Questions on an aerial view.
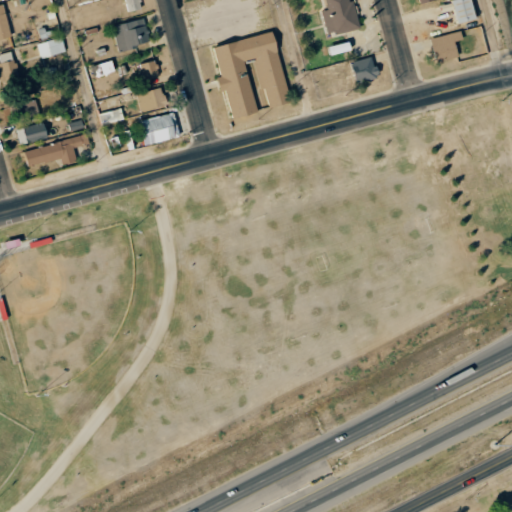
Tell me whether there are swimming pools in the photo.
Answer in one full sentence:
No, I can see no swimming pool in this picture.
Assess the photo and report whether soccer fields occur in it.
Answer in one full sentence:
Yes, there's a soccer field here.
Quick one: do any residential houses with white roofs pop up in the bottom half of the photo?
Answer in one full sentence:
No, in the bottom half of the photo there is no residential house with a white roof.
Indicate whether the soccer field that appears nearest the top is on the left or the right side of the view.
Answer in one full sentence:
It is on the right.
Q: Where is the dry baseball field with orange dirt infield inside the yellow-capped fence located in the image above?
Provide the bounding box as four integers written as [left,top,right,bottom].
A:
[0,224,134,394]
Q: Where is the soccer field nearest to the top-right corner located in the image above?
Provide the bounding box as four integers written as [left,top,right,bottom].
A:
[325,196,437,284]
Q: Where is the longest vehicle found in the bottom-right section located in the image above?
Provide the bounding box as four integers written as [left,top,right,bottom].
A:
[434,368,474,391]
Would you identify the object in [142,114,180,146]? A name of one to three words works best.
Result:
house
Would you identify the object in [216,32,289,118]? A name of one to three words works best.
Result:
building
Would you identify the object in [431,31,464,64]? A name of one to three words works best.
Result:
house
